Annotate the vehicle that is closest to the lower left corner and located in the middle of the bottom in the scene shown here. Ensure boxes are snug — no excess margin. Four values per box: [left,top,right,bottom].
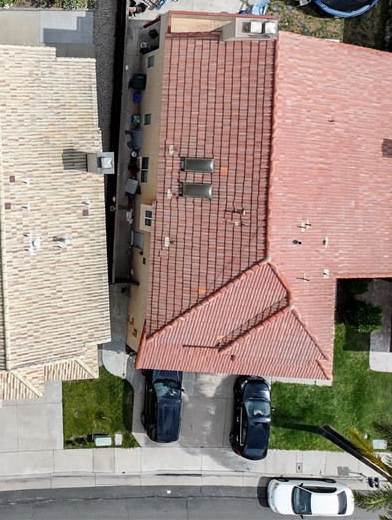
[145,370,189,441]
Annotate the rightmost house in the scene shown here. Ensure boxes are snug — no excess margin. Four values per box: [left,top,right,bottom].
[126,10,392,381]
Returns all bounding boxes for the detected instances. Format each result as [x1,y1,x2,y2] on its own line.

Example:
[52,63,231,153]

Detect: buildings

[126,10,392,381]
[0,43,116,410]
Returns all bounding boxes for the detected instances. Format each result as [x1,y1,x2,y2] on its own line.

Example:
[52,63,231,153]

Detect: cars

[145,370,189,441]
[264,475,355,520]
[229,375,276,460]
